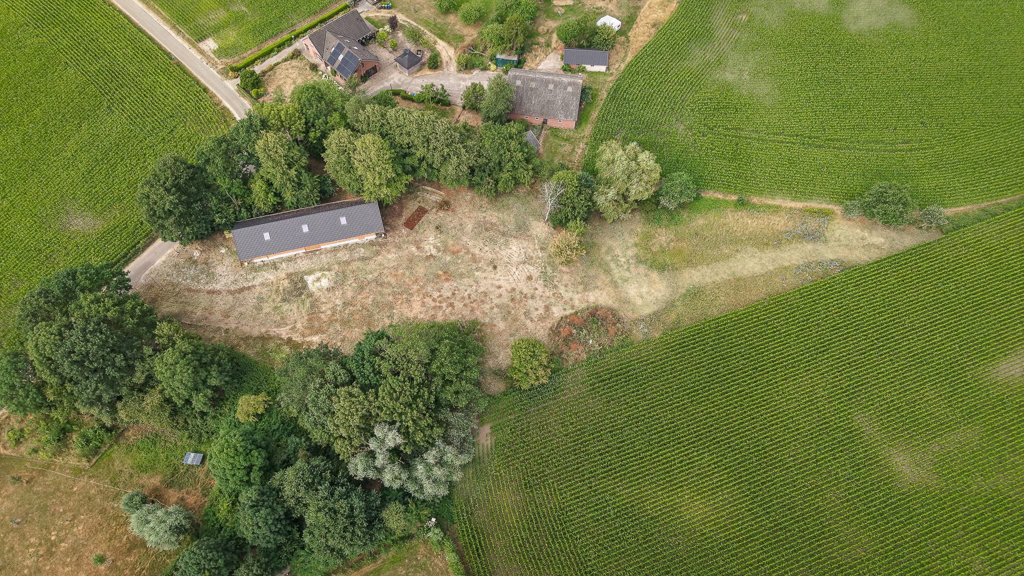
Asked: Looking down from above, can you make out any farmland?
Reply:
Yes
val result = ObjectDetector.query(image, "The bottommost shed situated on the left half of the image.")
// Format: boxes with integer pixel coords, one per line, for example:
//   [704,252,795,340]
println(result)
[232,194,385,268]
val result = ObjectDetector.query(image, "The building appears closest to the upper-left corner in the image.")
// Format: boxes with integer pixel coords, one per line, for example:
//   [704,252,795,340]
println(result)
[300,10,380,87]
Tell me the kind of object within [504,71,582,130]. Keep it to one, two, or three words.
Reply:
barn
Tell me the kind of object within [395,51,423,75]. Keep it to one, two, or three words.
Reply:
building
